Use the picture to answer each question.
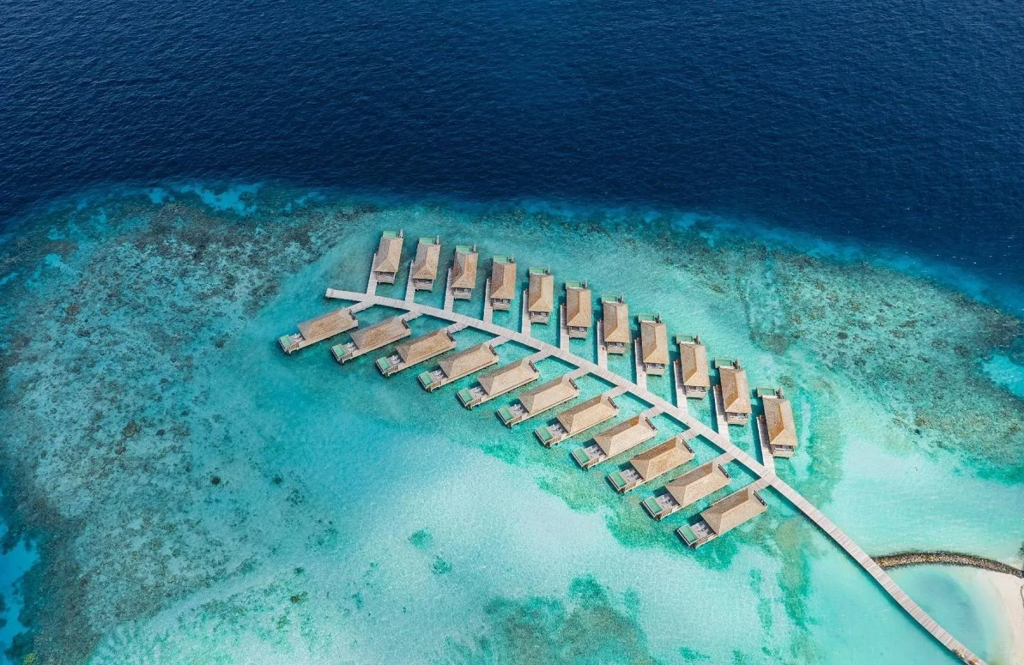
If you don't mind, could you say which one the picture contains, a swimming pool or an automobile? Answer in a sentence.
I can see a swimming pool in this picture.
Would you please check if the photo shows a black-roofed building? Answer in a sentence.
No, no black-roofed building is visible in the scene.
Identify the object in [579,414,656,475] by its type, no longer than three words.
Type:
house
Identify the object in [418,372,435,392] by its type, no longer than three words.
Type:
swimming pool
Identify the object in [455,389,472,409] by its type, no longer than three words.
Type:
swimming pool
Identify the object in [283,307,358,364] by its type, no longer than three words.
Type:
house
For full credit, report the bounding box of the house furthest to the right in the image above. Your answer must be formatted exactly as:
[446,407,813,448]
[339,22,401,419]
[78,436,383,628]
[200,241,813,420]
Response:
[757,388,797,460]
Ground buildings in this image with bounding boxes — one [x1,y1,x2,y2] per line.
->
[542,393,618,452]
[686,487,767,553]
[382,327,458,385]
[283,307,358,364]
[567,282,591,344]
[337,315,411,372]
[638,316,668,380]
[616,435,694,498]
[451,247,478,307]
[715,359,751,429]
[651,461,730,526]
[491,259,516,317]
[579,414,656,475]
[528,271,553,329]
[677,335,709,402]
[463,358,537,414]
[412,240,441,298]
[504,374,580,432]
[757,388,797,460]
[425,342,500,398]
[374,233,405,291]
[602,297,628,359]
